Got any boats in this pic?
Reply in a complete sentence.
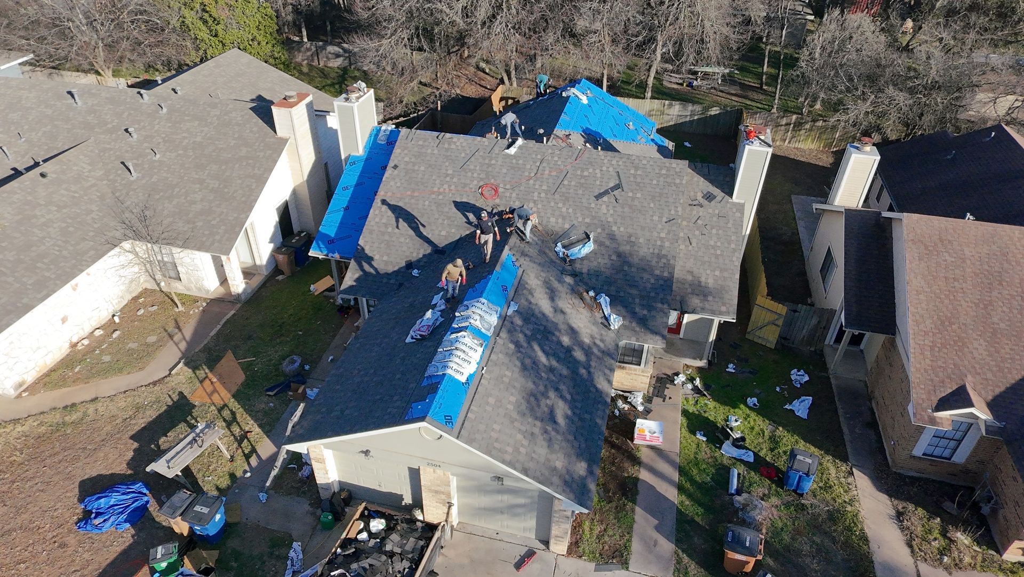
No, this view has no boat in it.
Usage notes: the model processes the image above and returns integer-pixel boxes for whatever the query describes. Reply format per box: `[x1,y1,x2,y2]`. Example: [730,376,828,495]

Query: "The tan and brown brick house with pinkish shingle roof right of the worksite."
[801,110,1024,577]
